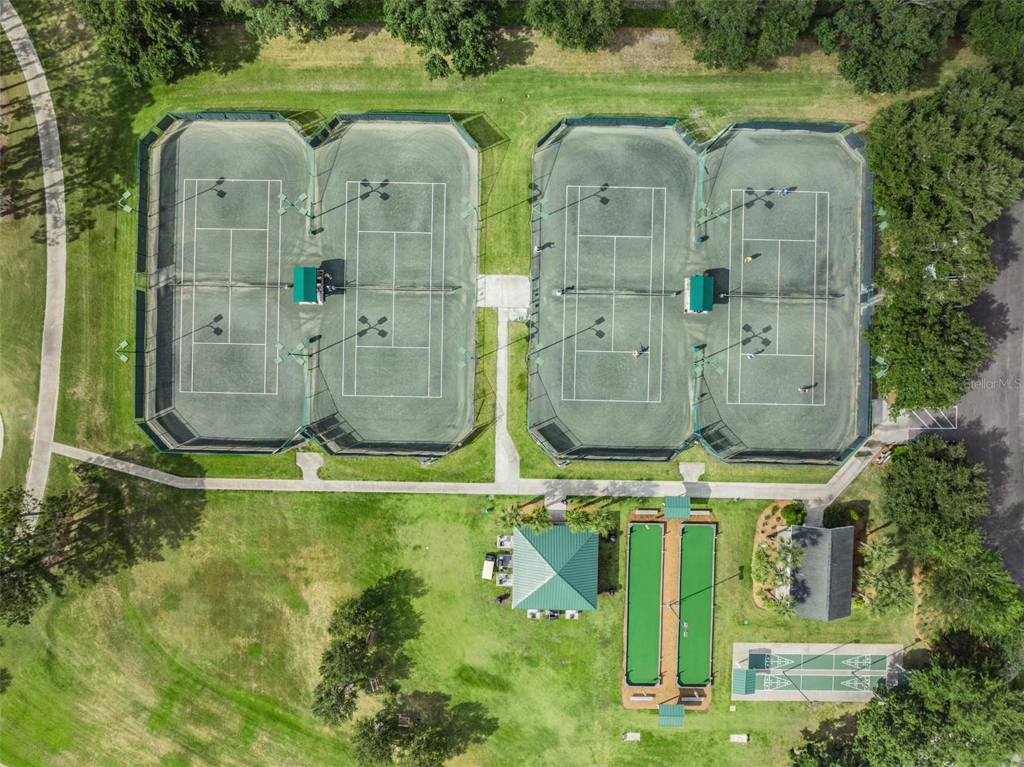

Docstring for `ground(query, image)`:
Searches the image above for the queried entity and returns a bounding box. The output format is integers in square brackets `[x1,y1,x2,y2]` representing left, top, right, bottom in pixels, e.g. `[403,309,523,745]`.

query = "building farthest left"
[512,524,599,611]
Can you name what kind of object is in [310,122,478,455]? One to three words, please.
tennis court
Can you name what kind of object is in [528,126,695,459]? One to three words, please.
tennis court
